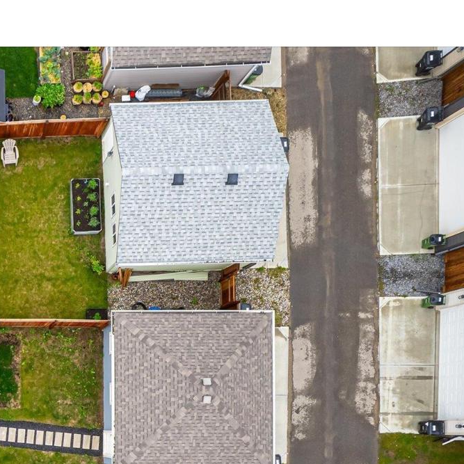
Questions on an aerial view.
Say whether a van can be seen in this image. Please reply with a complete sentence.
No, I find no van anywhere in the image.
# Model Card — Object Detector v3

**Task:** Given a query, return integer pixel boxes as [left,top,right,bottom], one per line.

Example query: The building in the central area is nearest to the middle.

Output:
[100,98,289,274]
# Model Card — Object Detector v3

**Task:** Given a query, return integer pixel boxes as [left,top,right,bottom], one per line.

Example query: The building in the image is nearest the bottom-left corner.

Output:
[93,308,277,464]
